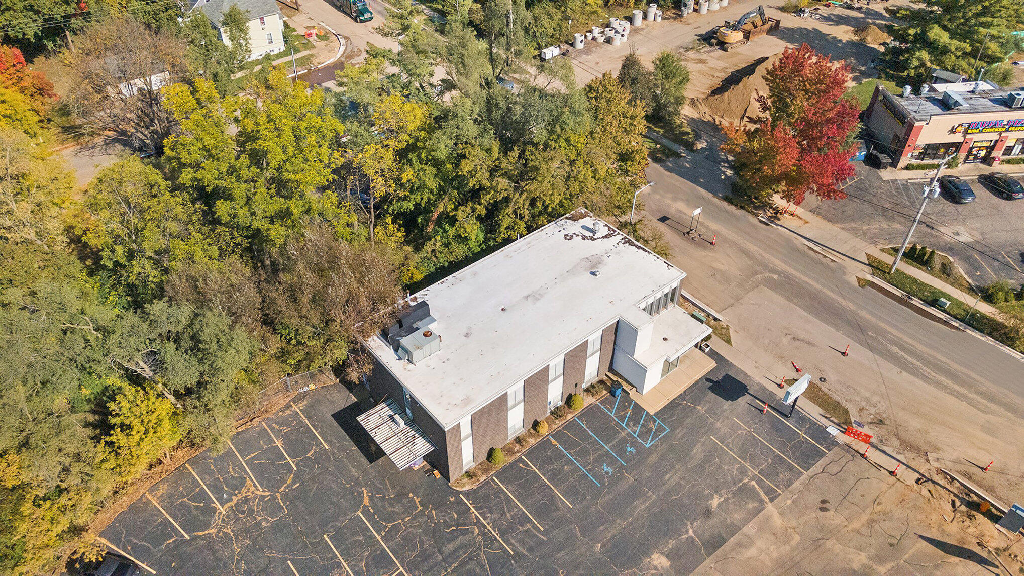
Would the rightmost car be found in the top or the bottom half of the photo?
top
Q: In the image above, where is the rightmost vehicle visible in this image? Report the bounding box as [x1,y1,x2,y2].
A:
[984,174,1021,198]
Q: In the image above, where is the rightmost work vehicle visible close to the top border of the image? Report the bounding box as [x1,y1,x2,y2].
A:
[710,0,762,48]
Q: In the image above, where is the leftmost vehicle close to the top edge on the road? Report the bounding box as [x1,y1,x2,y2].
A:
[324,0,372,22]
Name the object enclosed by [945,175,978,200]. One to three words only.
car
